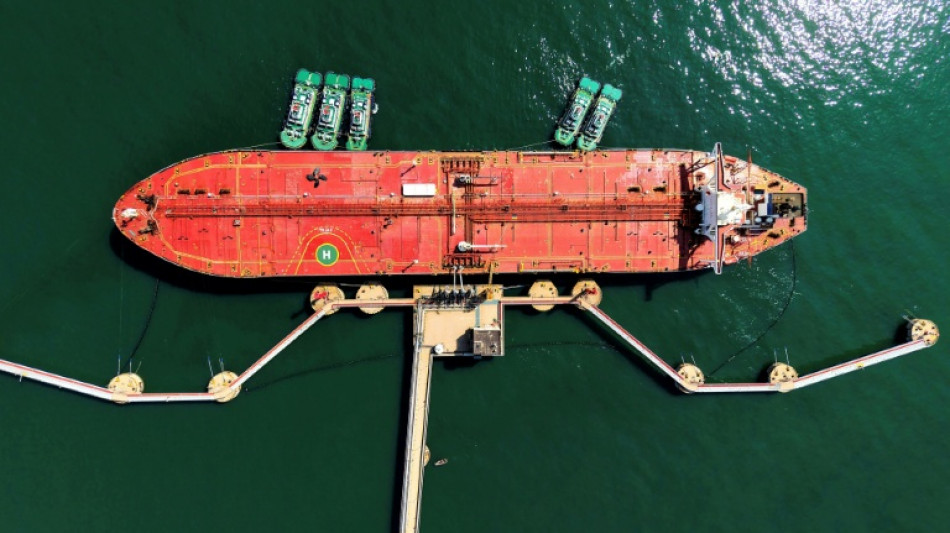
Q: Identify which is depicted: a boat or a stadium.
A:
boat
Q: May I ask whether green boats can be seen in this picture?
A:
Yes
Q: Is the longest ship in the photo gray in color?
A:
No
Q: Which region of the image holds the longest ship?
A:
center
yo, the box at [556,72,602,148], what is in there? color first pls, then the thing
green boat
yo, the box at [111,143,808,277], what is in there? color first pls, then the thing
red ship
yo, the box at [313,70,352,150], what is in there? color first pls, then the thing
green boat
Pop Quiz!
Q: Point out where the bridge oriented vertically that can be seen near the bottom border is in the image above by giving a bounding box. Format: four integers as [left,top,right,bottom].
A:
[400,362,432,533]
